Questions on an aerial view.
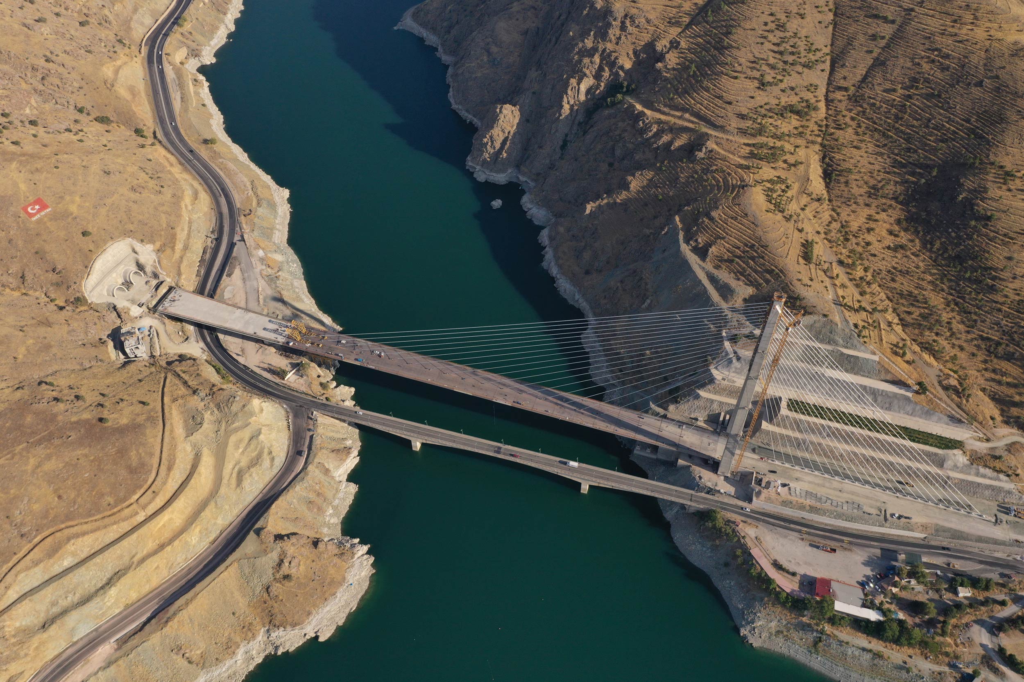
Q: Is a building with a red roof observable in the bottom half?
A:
Yes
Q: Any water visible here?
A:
Yes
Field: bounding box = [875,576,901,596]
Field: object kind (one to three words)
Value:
house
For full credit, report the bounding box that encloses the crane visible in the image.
[735,309,807,466]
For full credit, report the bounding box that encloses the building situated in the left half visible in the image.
[121,328,149,356]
